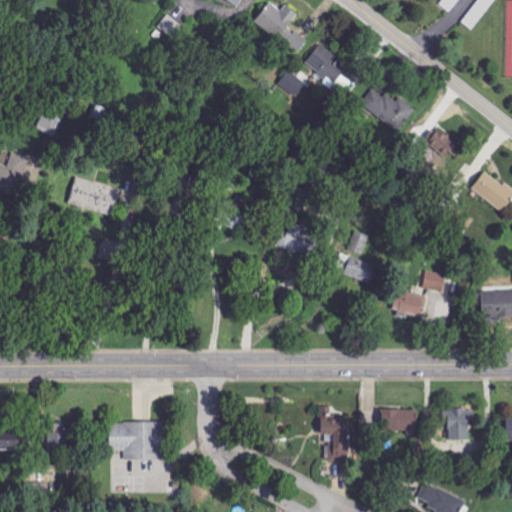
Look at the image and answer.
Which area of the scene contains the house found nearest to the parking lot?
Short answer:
bottom left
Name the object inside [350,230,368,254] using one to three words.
building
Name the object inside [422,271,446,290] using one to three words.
building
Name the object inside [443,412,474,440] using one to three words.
house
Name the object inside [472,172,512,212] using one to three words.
house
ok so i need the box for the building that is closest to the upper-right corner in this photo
[462,0,490,28]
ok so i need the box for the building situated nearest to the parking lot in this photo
[109,422,164,460]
